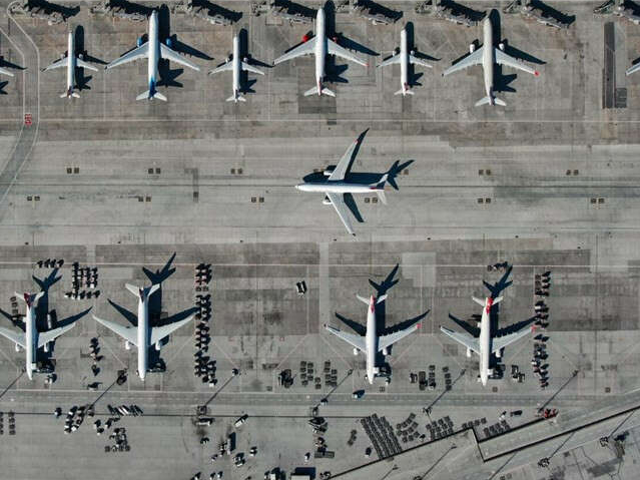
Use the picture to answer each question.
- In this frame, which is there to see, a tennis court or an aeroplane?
aeroplane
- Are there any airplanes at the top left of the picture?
Yes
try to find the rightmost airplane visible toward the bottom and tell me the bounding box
[440,300,535,385]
